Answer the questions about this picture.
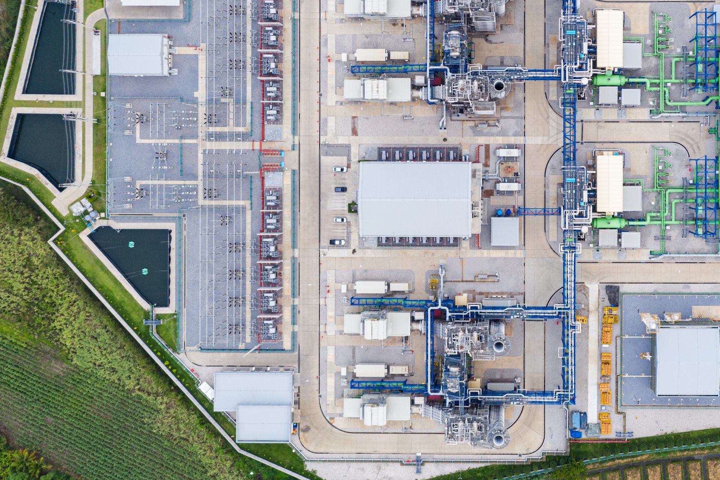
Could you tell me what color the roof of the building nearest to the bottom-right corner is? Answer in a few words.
white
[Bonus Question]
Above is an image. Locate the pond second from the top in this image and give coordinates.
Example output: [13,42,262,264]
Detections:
[0,107,82,197]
